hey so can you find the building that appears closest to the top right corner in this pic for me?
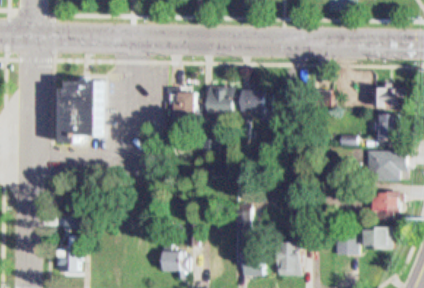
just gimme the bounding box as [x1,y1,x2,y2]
[376,88,399,110]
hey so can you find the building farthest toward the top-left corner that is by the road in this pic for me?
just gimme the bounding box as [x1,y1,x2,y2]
[57,82,106,146]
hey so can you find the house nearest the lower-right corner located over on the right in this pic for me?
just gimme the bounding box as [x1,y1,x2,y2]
[364,227,395,250]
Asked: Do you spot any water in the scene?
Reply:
No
